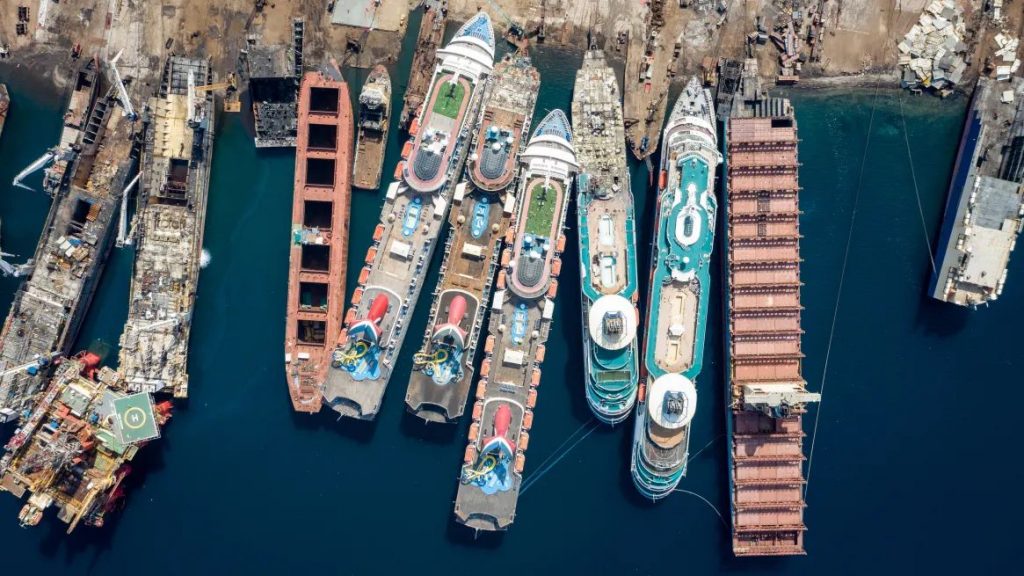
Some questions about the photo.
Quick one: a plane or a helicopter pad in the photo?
helicopter pad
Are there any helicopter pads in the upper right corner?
No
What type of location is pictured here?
port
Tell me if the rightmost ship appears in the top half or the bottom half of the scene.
top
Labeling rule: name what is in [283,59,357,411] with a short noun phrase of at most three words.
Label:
ship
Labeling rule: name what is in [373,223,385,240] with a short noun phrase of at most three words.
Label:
boat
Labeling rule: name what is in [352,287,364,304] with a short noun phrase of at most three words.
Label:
boat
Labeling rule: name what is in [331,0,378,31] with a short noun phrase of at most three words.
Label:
shed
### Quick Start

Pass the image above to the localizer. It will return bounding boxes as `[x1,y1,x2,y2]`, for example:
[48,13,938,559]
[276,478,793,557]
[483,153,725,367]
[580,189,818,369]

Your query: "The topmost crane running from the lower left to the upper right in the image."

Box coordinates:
[13,148,67,192]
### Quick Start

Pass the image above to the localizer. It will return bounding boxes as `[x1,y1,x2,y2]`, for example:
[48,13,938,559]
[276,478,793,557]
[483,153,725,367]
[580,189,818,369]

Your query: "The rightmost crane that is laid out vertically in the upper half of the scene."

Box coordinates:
[184,68,199,129]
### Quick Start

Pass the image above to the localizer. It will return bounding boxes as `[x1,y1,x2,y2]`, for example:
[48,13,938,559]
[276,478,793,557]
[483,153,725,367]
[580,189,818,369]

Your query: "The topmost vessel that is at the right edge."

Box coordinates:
[926,77,1024,306]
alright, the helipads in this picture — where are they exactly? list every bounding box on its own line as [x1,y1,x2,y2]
[111,389,165,446]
